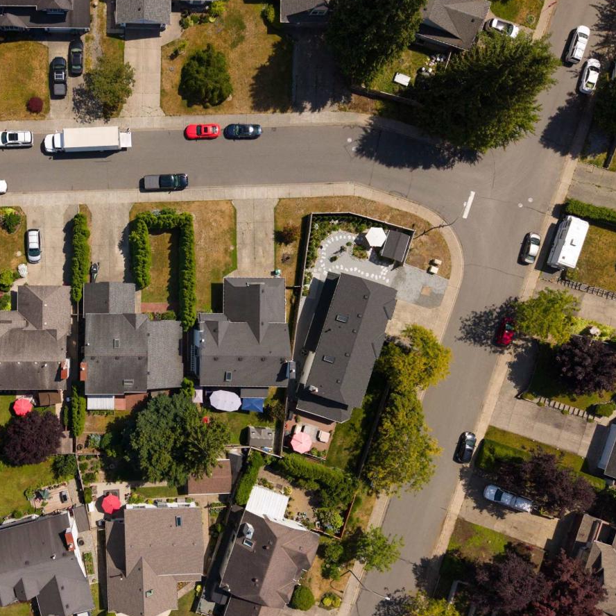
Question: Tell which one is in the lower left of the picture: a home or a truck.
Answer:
home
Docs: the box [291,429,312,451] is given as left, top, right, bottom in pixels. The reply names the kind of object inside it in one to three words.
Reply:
umbrella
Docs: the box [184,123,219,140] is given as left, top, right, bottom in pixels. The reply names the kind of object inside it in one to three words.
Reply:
car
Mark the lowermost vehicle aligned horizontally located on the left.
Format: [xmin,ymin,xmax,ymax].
[144,174,188,191]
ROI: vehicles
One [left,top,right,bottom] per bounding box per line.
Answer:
[92,265,99,280]
[43,126,132,153]
[519,231,541,266]
[68,41,85,77]
[544,214,586,269]
[491,315,514,349]
[577,60,600,95]
[184,123,219,140]
[563,25,589,68]
[50,57,67,100]
[25,228,41,264]
[0,130,33,147]
[224,123,260,140]
[144,174,188,191]
[493,17,518,34]
[455,429,476,463]
[0,181,8,194]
